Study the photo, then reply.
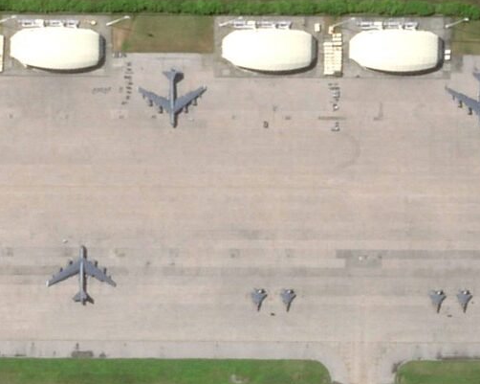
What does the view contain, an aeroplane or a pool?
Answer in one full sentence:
This aerial view contains an aeroplane.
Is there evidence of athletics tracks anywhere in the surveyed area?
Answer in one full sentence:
No, the picture doesn't show any athletics track.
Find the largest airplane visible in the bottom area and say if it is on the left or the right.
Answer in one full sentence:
The largest airplane visible in the bottom area sits on the left side.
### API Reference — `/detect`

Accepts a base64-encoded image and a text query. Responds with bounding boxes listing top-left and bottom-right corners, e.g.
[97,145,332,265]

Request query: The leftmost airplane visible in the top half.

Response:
[139,66,207,127]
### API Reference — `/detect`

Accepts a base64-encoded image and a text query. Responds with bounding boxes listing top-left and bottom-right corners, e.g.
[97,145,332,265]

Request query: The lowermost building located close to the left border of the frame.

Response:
[10,26,100,72]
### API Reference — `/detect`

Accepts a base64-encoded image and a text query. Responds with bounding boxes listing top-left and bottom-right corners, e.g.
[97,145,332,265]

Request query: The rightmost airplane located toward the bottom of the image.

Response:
[457,290,473,311]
